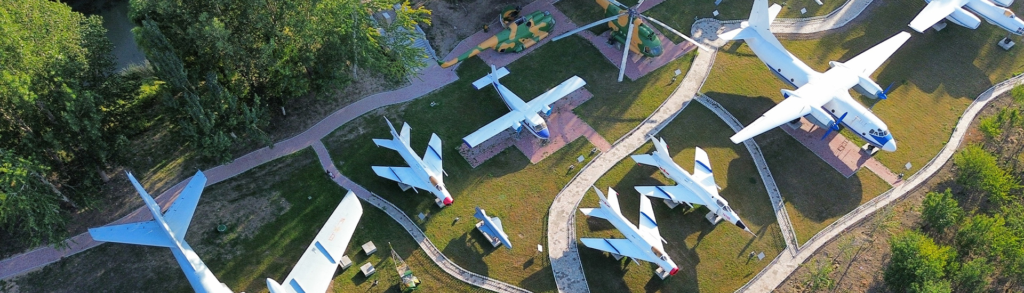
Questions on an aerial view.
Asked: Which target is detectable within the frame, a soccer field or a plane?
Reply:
plane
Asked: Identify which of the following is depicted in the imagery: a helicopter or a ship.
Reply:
helicopter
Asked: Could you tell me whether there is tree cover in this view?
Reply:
Yes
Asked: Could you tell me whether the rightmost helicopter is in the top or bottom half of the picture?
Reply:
top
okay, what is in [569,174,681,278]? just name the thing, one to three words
airplane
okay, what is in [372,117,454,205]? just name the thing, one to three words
airplane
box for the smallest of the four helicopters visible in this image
[482,5,521,30]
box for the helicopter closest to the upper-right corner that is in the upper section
[556,0,706,78]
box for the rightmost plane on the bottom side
[631,134,757,244]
